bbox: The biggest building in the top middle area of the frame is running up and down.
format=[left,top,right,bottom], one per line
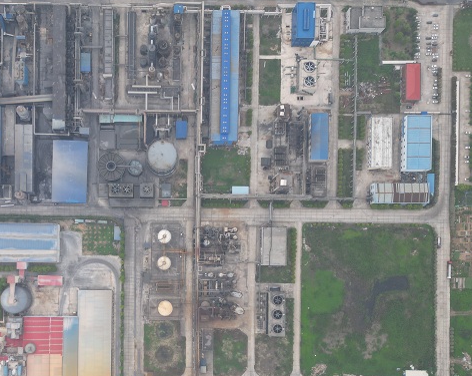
[211,9,239,146]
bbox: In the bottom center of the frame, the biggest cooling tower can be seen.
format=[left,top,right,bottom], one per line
[266,292,286,336]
